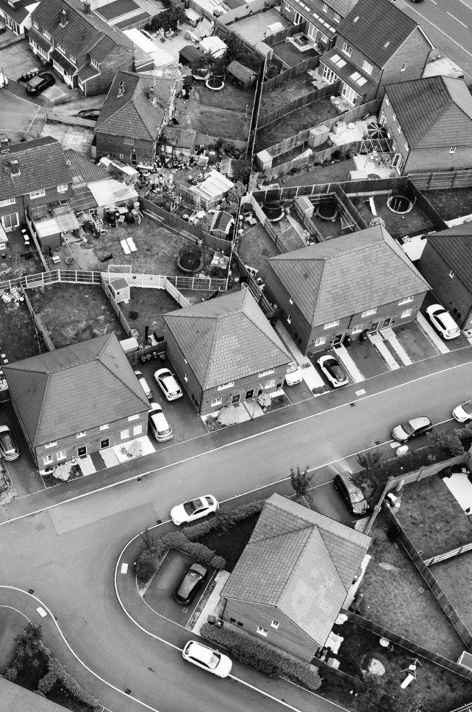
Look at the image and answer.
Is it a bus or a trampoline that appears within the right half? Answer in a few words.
trampoline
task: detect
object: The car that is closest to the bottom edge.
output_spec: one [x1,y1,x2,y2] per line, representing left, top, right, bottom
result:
[180,639,234,679]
